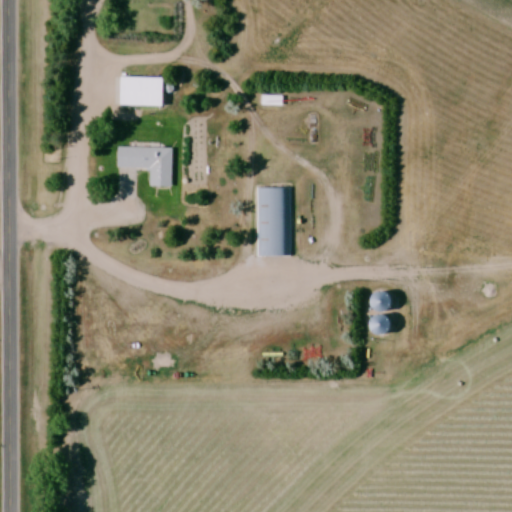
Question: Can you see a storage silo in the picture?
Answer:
Yes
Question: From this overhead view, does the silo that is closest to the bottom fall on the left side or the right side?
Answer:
right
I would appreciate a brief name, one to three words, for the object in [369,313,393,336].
silo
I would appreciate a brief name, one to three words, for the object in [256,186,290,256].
barn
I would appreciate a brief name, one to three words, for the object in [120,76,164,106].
building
